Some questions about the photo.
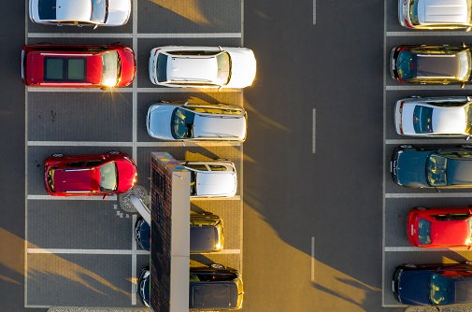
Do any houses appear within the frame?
No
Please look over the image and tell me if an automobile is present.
Yes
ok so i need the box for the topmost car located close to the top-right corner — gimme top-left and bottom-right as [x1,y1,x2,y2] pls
[396,0,472,34]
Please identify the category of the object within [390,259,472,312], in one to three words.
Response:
car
